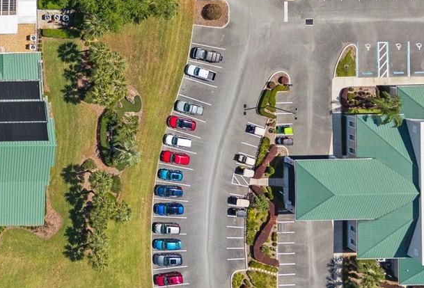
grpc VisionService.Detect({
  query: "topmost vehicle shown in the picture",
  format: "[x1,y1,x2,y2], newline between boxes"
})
[190,47,221,63]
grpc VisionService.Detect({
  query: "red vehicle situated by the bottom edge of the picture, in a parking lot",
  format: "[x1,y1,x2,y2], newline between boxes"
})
[153,271,184,287]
